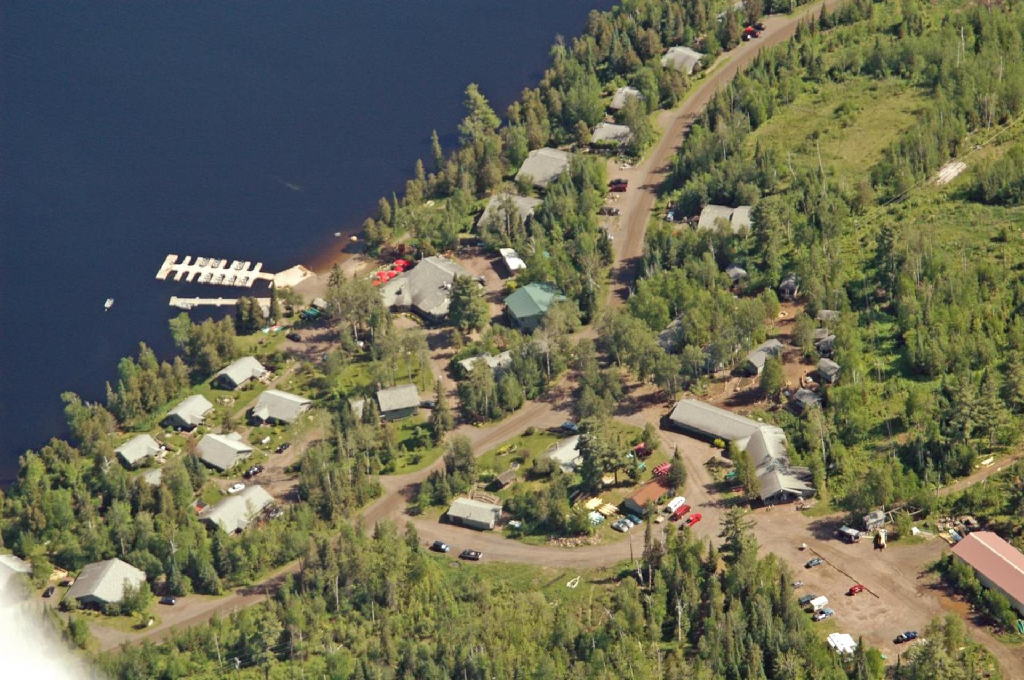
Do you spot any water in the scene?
Yes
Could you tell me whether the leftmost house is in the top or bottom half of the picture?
bottom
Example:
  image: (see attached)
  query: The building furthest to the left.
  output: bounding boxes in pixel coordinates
[0,556,37,600]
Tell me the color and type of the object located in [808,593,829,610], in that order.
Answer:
white vehicle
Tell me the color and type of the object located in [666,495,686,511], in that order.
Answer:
white vehicle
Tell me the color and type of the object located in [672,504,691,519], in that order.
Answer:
red vehicle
